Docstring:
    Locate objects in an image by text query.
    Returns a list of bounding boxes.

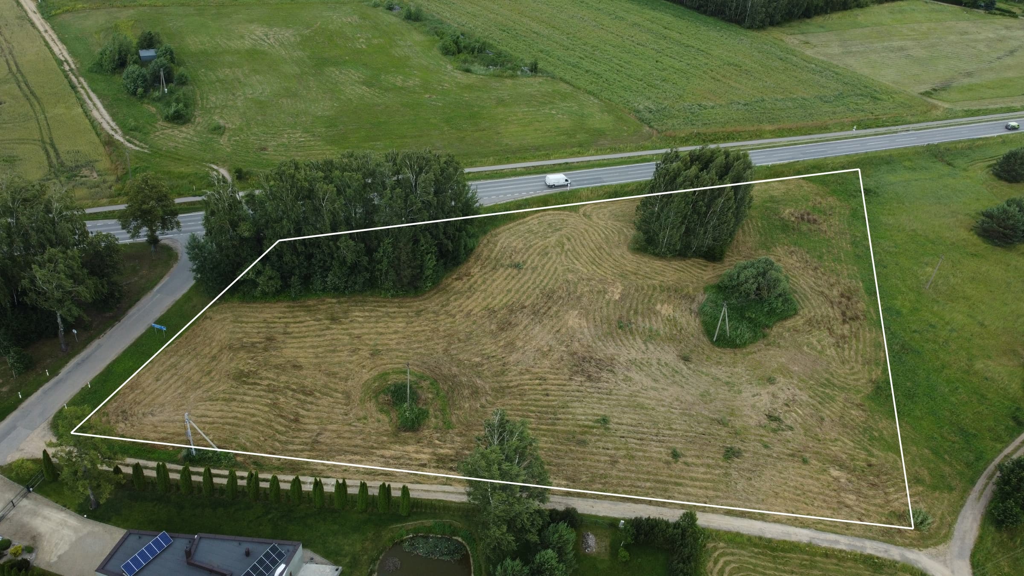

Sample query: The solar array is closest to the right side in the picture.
[239,541,289,576]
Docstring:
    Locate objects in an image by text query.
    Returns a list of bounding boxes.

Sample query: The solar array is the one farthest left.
[121,529,175,573]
